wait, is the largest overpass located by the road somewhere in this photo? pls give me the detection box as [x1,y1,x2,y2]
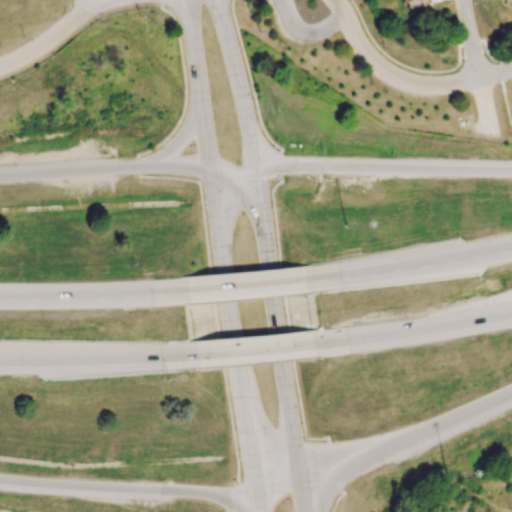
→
[192,329,326,370]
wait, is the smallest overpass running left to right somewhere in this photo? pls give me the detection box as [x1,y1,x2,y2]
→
[187,265,317,304]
